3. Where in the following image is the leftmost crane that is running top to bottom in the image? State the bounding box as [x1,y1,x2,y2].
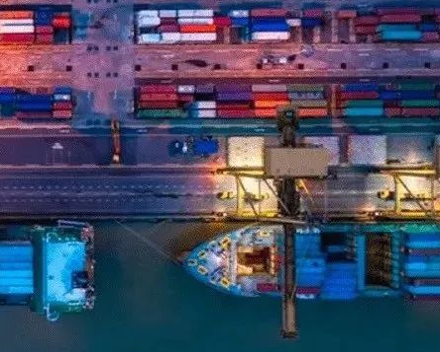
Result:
[216,108,330,342]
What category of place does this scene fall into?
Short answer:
port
